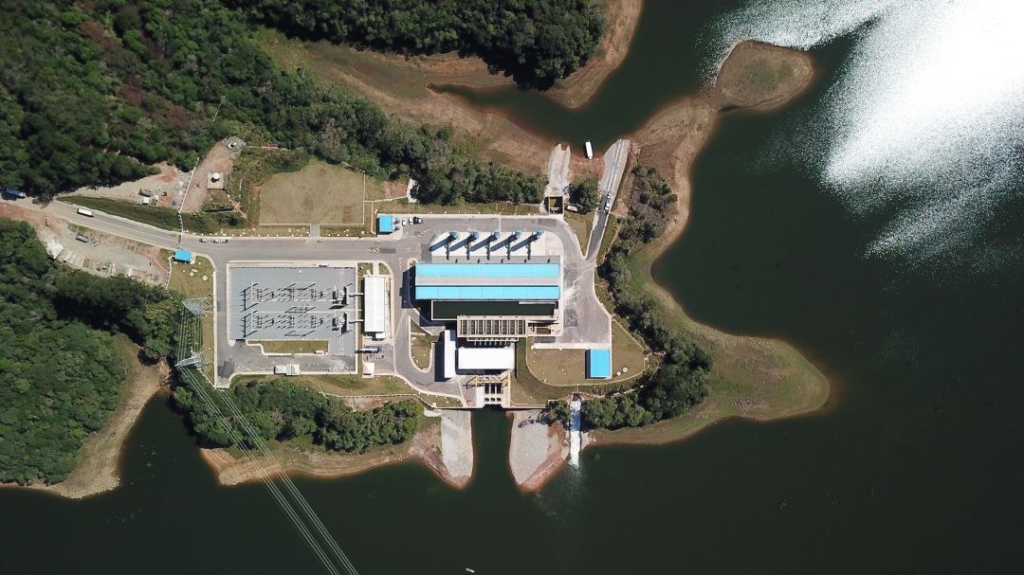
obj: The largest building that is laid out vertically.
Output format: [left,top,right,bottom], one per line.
[365,276,390,334]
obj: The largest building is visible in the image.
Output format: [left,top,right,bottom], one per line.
[414,263,560,299]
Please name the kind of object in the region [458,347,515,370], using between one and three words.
building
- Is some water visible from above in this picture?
Yes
